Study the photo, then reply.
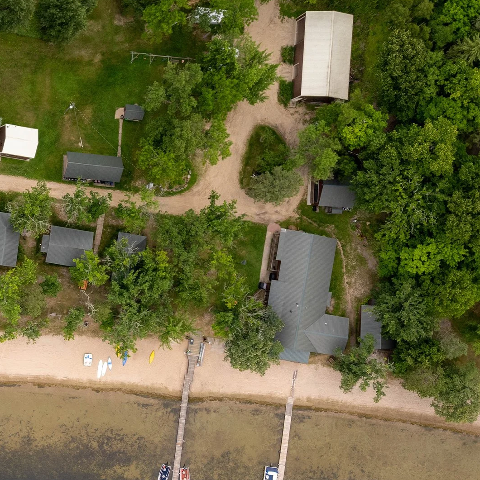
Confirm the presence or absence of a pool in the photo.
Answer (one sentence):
No, there isn't any pool down there.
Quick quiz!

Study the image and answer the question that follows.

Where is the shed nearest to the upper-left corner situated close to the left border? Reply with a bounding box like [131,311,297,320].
[0,124,38,163]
